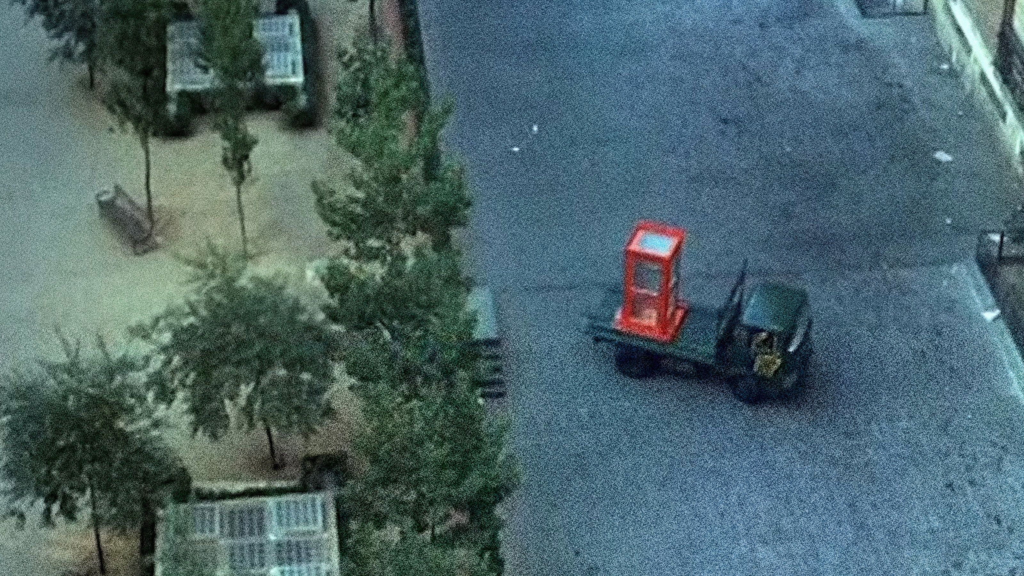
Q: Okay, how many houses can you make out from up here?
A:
none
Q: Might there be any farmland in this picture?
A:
No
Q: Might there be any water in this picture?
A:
No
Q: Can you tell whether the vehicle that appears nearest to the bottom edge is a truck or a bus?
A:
truck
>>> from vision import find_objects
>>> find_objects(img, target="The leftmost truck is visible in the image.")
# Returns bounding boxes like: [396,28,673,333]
[582,256,817,408]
